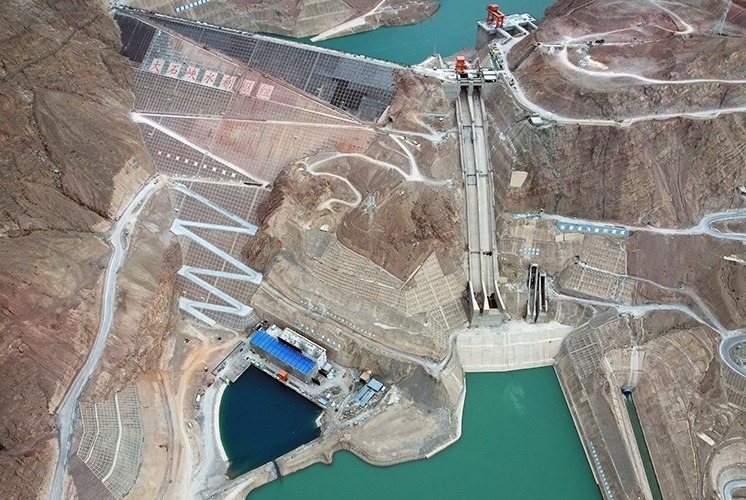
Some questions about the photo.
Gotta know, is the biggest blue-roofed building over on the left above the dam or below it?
below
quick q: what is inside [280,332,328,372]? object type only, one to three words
building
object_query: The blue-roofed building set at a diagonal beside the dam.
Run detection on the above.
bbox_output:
[250,329,318,382]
